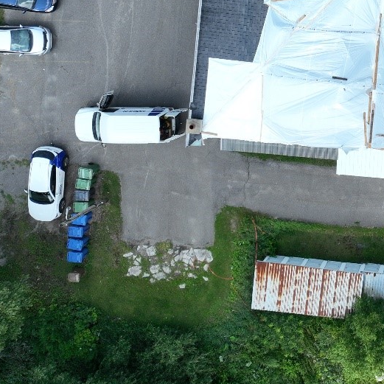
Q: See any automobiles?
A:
Yes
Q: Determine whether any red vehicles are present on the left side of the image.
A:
No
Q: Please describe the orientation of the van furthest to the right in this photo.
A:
from side to side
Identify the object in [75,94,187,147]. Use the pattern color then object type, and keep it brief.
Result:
white van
